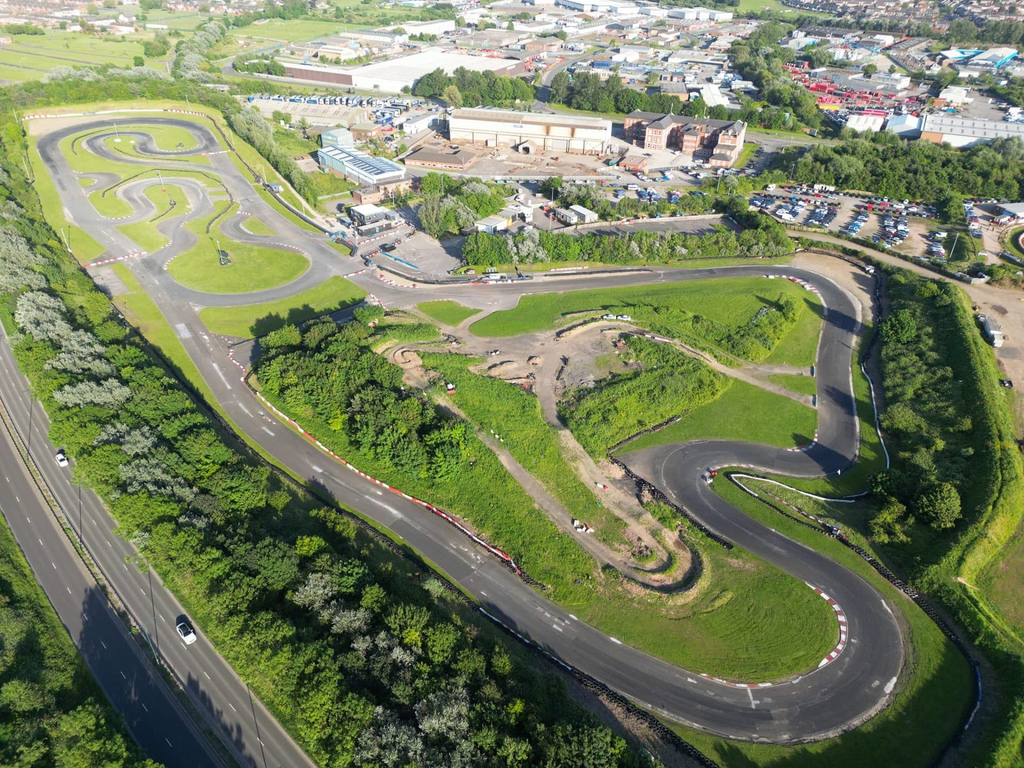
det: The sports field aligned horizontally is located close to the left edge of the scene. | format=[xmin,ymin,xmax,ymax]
[0,30,177,76]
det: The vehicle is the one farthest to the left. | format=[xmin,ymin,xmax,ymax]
[55,452,68,465]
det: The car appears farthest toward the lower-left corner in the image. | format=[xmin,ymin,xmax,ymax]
[176,622,197,644]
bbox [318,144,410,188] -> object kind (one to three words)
building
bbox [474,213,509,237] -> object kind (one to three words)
shed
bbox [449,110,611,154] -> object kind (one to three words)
shed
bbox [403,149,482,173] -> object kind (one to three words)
building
